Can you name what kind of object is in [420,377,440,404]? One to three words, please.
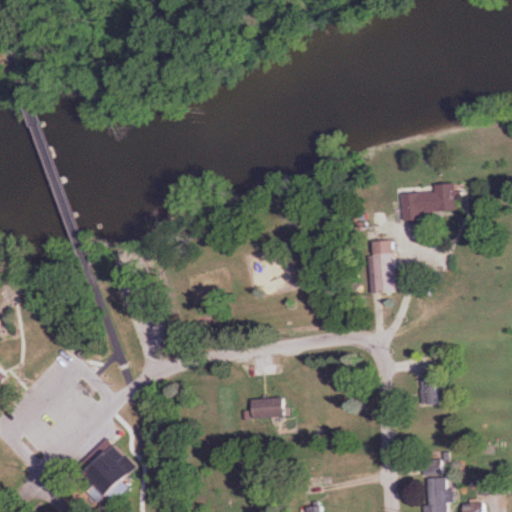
house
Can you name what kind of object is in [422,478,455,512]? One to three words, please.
house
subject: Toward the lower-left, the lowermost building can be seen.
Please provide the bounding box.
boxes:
[80,438,136,502]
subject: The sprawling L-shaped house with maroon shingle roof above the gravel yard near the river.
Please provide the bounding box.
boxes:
[400,183,461,221]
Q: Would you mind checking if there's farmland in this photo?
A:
No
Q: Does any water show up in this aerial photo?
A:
Yes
